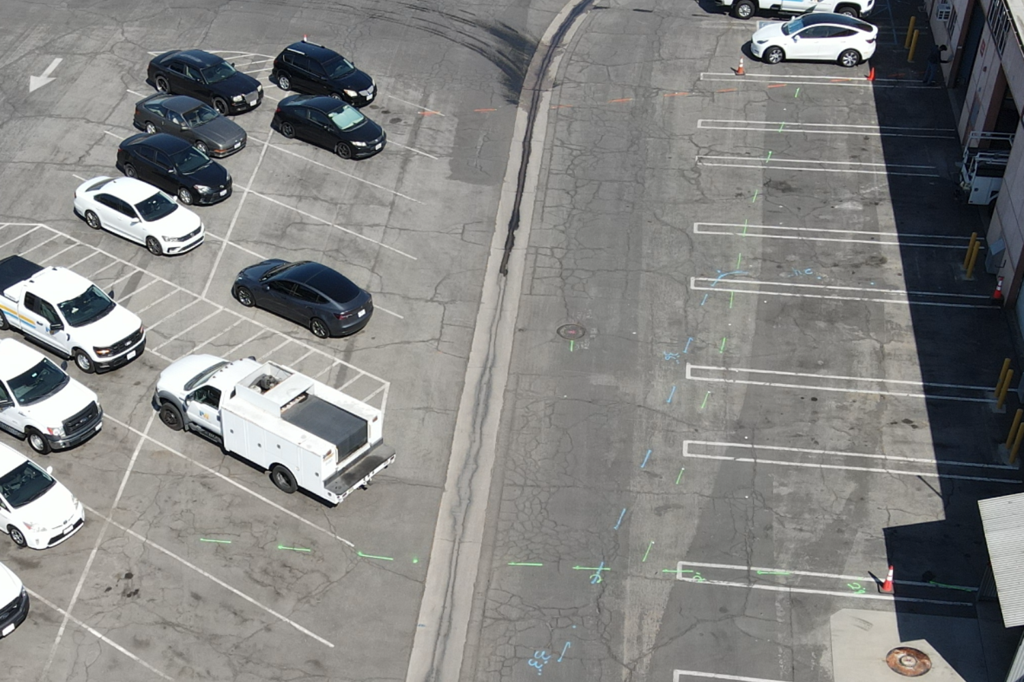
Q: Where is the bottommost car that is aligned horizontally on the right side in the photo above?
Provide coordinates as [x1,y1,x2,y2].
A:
[750,10,881,66]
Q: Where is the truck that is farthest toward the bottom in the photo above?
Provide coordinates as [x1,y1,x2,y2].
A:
[0,569,30,636]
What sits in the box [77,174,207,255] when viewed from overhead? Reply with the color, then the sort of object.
white car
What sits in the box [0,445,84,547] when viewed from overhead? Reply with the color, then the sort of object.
white car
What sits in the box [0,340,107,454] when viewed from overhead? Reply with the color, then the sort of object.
white truck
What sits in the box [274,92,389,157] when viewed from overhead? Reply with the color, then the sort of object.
black car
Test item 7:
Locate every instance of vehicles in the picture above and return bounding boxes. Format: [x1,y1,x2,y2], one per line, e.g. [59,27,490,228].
[0,569,30,636]
[710,0,873,18]
[0,254,149,372]
[0,445,84,547]
[750,10,881,66]
[149,47,269,114]
[942,123,1015,205]
[115,130,234,202]
[77,174,207,255]
[274,92,389,157]
[272,35,379,105]
[137,90,249,153]
[0,340,107,454]
[237,255,377,338]
[148,352,397,509]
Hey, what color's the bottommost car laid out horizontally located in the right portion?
white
